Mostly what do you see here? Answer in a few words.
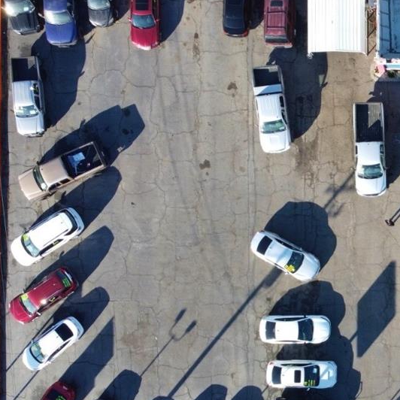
paved ground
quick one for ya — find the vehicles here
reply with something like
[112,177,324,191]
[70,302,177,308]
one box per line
[253,64,293,154]
[223,0,253,37]
[262,0,298,47]
[40,0,80,48]
[268,359,338,391]
[13,266,82,323]
[84,0,120,29]
[261,314,333,346]
[21,141,109,199]
[25,314,87,369]
[15,208,86,264]
[40,378,78,400]
[7,55,50,139]
[352,102,388,198]
[253,230,318,281]
[128,0,163,50]
[2,0,44,36]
